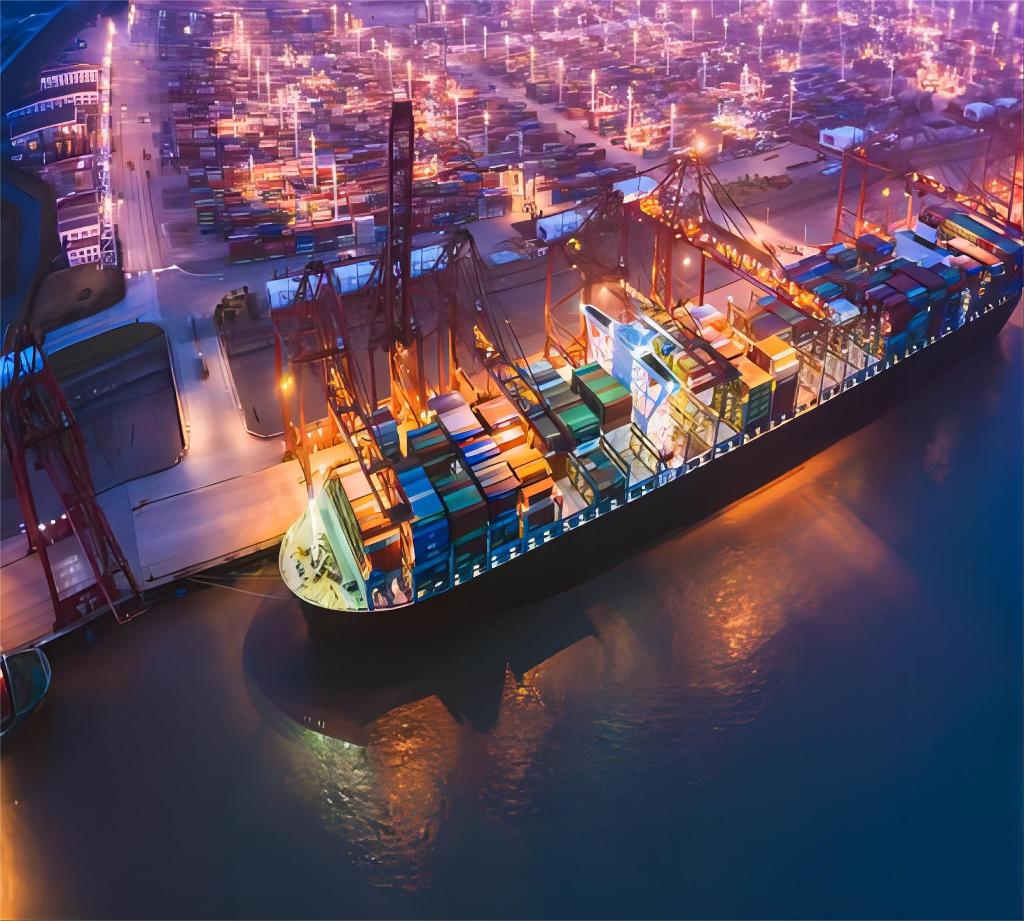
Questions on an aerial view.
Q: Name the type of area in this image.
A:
port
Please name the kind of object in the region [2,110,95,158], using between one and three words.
building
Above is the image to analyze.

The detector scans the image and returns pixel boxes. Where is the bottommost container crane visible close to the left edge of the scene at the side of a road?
[0,327,136,634]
